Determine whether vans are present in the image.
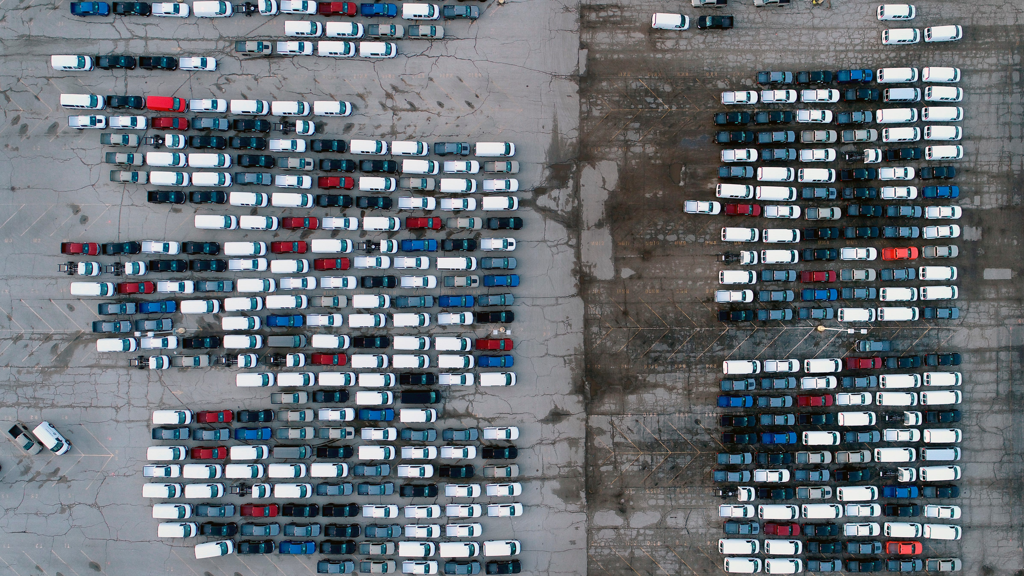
Yes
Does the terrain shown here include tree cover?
No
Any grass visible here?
No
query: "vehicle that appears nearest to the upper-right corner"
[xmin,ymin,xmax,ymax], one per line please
[922,23,963,43]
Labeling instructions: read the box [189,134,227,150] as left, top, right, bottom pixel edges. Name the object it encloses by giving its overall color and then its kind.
black vehicle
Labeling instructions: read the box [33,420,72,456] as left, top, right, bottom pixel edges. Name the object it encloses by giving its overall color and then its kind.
white van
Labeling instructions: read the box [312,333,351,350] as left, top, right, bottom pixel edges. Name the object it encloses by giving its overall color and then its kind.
white vehicle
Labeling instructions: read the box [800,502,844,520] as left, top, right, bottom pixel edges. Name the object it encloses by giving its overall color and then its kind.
white vehicle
